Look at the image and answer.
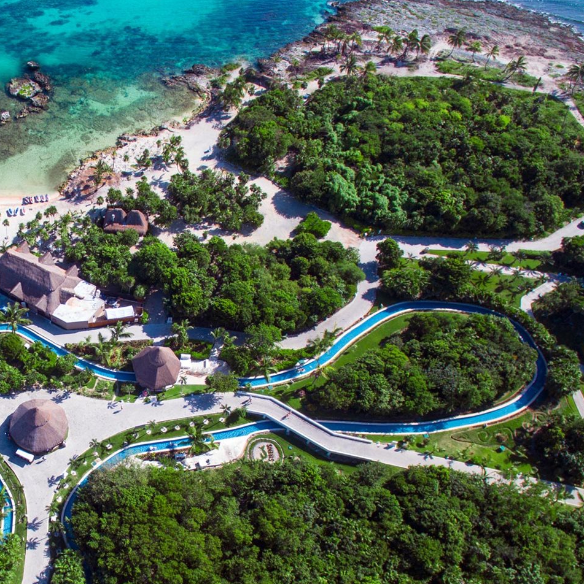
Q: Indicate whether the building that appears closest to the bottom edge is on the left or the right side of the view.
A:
left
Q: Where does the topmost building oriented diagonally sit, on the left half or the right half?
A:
left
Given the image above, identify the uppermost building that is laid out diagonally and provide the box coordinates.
[0,242,105,332]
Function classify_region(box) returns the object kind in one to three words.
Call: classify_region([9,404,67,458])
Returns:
building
